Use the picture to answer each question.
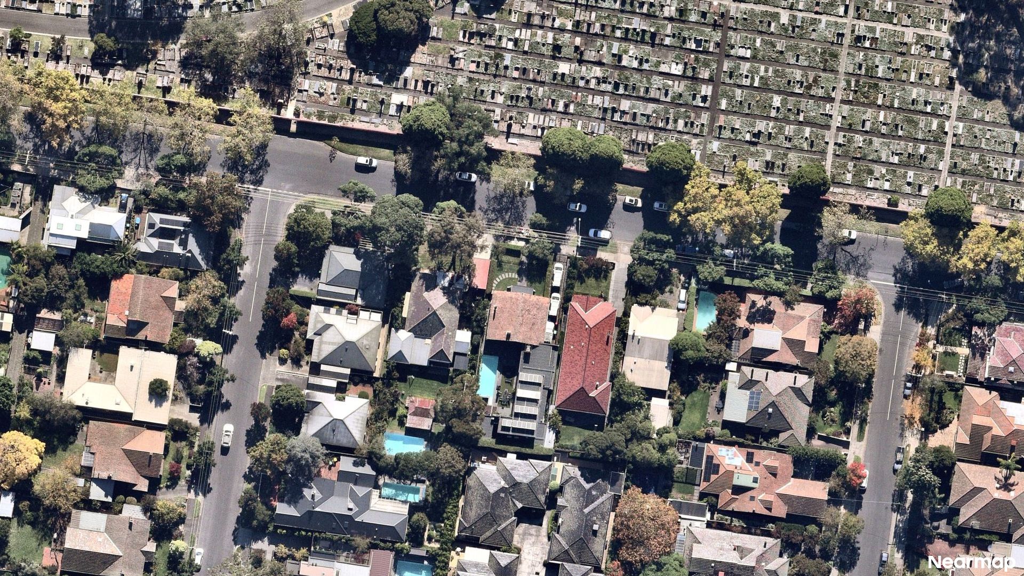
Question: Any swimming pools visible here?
Yes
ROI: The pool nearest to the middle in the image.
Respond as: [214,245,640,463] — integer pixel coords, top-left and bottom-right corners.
[478,355,499,400]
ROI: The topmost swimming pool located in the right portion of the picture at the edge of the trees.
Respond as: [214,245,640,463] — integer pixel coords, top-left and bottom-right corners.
[696,290,718,332]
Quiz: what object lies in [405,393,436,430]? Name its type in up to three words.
shed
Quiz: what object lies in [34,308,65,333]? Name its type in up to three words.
house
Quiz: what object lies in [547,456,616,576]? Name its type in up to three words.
house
